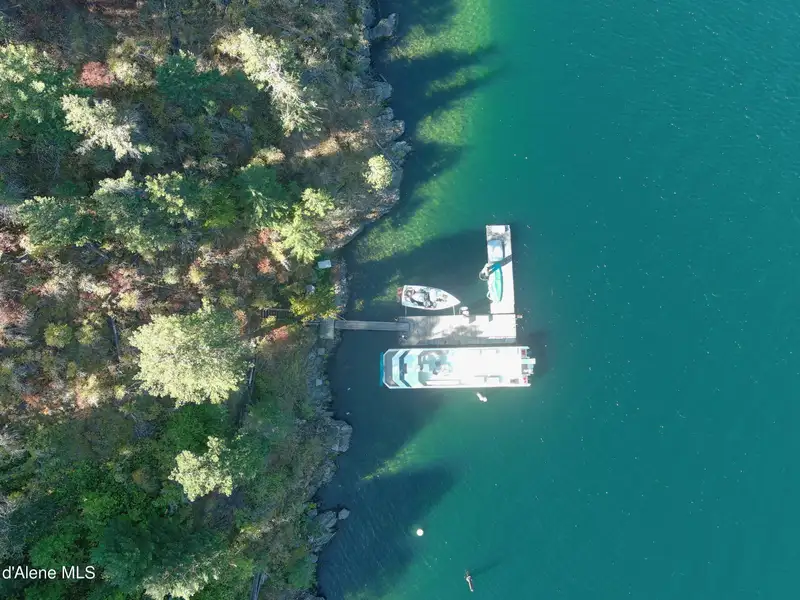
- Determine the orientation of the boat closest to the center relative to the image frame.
from left to right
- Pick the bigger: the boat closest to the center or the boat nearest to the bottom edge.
the boat nearest to the bottom edge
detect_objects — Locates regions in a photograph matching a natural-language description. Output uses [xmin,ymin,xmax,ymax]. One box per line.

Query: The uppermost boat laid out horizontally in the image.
[395,286,460,310]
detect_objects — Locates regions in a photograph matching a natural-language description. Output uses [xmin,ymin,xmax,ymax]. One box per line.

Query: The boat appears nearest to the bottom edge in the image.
[380,348,535,389]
